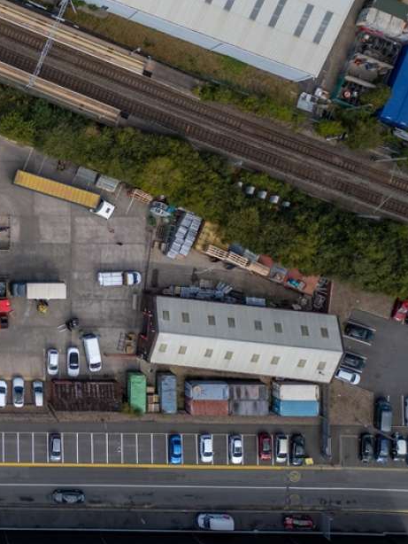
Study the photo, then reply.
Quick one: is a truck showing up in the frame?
Yes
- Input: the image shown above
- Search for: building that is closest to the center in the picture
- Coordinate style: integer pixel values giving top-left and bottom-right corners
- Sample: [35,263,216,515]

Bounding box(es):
[140,292,346,383]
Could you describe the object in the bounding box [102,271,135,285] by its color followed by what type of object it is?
white vehicle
